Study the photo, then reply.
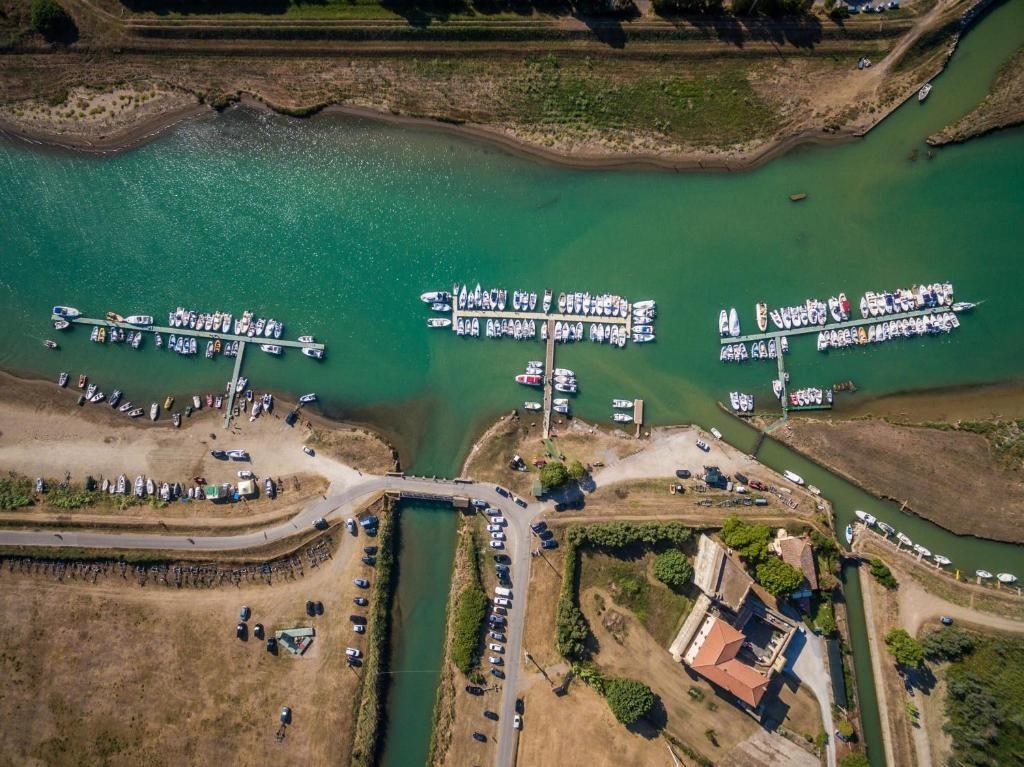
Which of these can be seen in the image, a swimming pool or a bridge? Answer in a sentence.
This aerial view contains a bridge.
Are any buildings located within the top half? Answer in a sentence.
No, looking within the top half, there is no building.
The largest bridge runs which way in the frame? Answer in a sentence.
Seen from above, the largest bridge lies from side to side.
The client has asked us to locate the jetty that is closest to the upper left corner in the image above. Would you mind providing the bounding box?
[51,315,324,419]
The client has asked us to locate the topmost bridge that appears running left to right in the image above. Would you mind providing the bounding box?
[384,472,472,508]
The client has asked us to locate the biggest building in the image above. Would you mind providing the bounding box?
[666,529,799,712]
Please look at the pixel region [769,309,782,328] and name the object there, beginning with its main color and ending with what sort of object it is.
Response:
white boat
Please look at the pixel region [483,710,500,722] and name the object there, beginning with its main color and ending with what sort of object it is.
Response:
black vehicle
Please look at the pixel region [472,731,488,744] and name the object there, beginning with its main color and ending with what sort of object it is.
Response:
black vehicle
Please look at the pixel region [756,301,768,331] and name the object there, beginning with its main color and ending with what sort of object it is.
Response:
white boat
